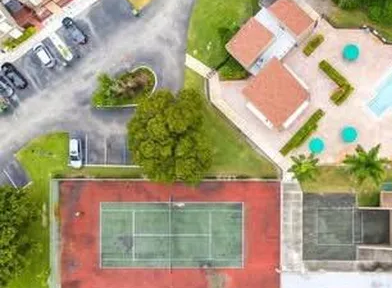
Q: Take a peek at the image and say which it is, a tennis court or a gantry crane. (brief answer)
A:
tennis court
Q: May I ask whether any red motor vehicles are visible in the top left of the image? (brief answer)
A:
No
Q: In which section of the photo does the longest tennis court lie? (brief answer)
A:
bottom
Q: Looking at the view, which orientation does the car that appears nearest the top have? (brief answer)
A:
diagonally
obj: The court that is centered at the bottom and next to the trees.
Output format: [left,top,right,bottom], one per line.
[99,198,244,273]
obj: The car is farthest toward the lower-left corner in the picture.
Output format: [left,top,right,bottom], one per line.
[68,138,84,168]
